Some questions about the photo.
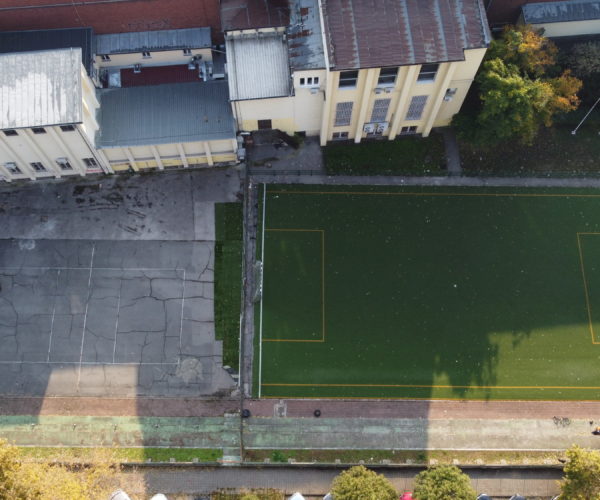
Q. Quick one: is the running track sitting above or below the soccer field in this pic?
below it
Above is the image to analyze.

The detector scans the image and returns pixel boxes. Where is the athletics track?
[0,397,600,449]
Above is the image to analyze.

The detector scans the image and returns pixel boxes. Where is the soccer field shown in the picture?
[255,184,600,402]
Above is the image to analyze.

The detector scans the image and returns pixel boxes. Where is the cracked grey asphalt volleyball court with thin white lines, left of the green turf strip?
[0,237,239,398]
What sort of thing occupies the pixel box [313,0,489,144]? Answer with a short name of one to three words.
building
